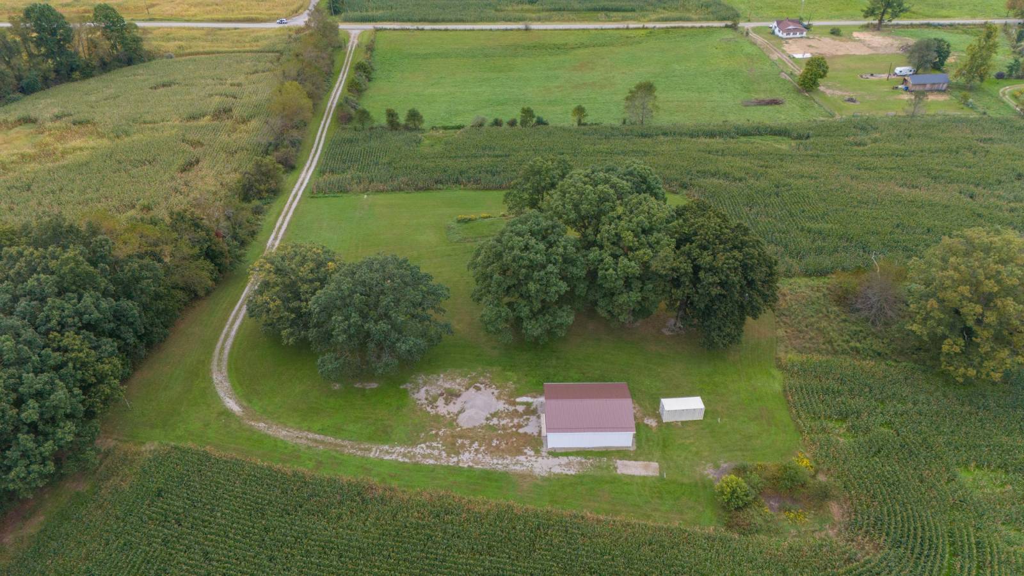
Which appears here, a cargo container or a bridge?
cargo container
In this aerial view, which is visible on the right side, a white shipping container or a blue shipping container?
white shipping container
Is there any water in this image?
No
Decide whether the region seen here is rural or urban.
rural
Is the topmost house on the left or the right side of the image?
right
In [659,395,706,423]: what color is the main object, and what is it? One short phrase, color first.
white shipping container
